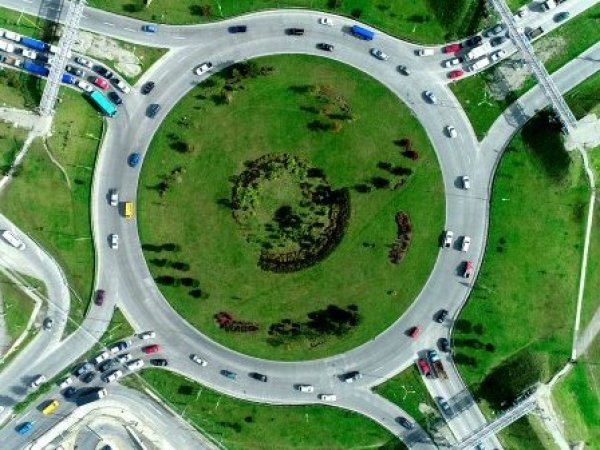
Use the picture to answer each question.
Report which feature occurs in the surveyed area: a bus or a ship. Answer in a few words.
bus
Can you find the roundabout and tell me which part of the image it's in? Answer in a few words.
center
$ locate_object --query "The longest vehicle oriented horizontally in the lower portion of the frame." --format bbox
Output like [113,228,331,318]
[72,388,108,405]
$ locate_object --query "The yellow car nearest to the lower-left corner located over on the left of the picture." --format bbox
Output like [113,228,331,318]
[43,401,59,414]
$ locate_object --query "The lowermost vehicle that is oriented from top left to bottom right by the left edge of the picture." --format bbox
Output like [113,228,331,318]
[1,231,25,251]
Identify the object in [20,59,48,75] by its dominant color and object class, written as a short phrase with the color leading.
blue vehicle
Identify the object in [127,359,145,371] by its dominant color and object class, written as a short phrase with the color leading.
white vehicle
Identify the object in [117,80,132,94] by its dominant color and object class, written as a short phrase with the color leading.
white vehicle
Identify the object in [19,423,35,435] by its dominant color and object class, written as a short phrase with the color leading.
blue vehicle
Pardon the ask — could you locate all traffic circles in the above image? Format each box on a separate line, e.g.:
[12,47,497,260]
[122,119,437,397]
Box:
[95,11,488,402]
